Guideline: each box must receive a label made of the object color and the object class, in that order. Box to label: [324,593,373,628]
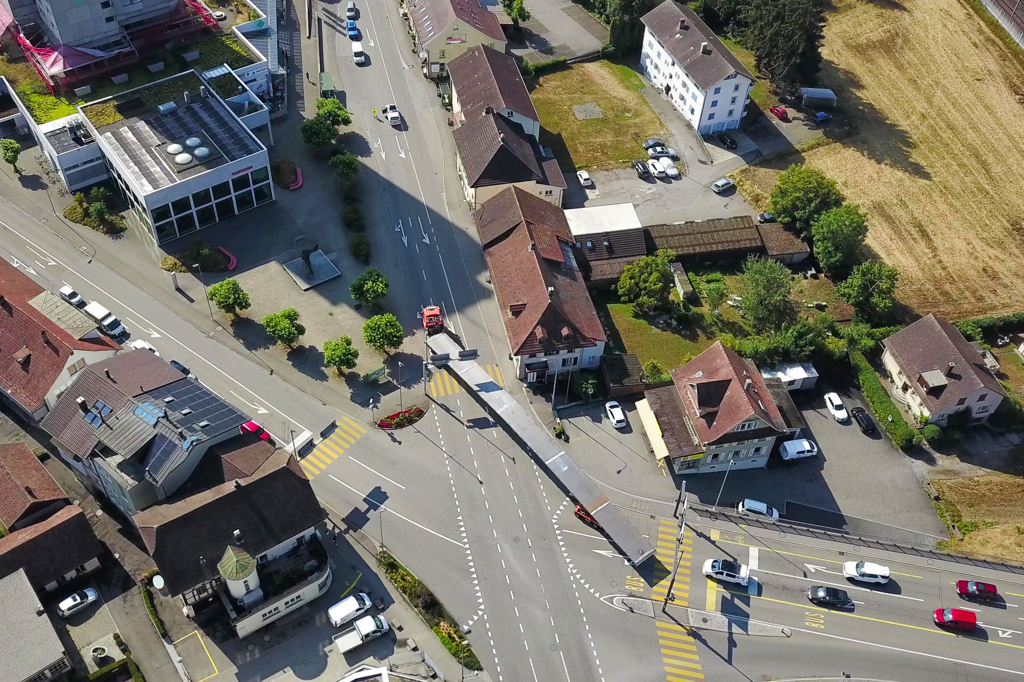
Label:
white van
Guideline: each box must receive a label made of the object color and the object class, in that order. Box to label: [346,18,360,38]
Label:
blue car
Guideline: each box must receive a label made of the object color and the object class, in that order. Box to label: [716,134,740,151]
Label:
black car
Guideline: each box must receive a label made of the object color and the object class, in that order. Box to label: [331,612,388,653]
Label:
white truck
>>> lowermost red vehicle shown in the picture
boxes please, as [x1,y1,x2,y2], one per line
[932,606,979,632]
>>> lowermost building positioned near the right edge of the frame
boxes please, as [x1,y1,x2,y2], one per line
[882,312,1011,420]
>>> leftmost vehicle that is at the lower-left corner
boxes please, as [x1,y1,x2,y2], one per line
[52,588,102,621]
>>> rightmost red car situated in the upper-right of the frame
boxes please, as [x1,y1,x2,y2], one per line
[767,106,790,122]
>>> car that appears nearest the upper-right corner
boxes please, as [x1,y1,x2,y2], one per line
[809,111,833,125]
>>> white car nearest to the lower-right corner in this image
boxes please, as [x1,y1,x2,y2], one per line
[845,559,889,585]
